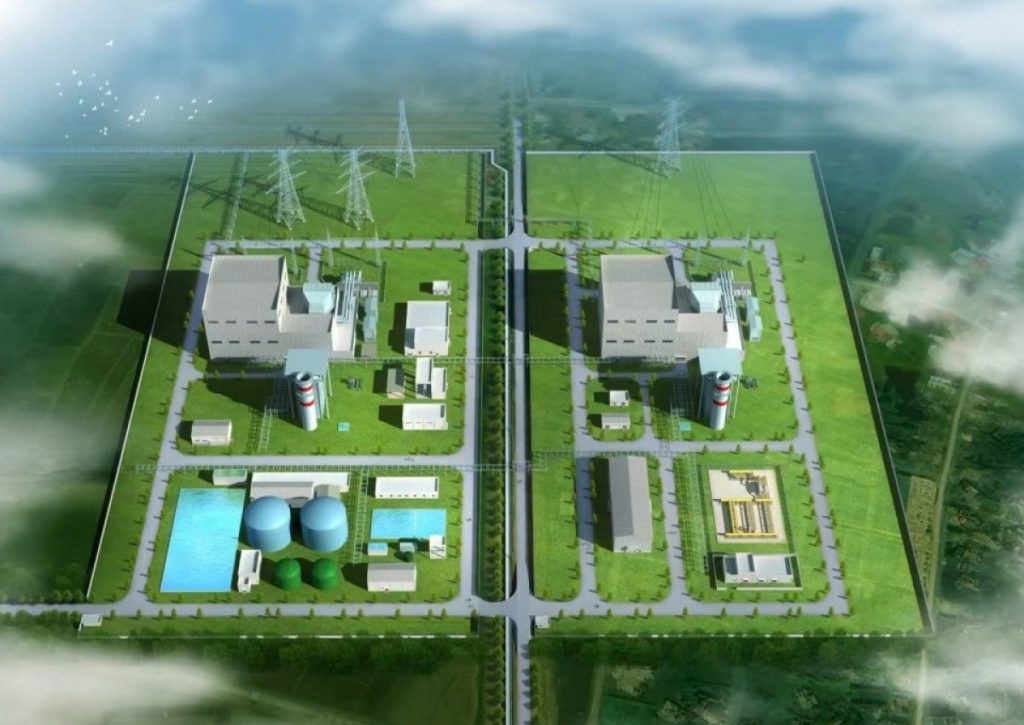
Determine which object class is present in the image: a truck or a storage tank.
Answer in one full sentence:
The one in the frame is a storage tank.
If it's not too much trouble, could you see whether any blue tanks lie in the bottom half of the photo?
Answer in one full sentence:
Yes, there is a blue tank in the bottom half of the photo.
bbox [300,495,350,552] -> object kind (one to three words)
storage tank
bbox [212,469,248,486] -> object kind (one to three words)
house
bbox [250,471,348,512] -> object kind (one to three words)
building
